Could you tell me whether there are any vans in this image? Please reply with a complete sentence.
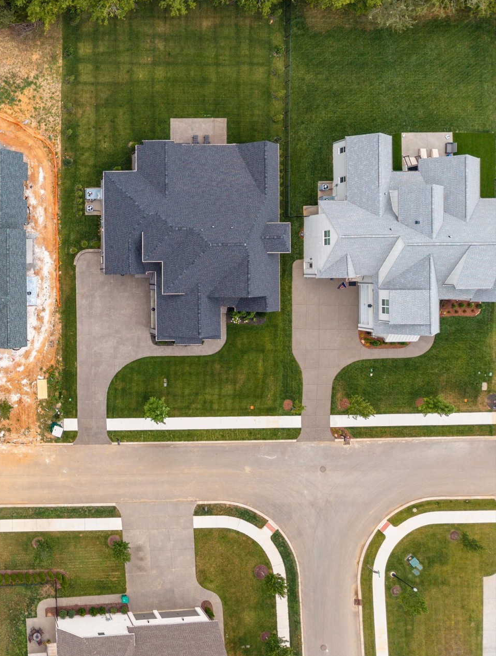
No, this view has no van in it.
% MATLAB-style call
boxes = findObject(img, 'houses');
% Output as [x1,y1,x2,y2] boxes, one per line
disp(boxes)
[56,608,229,656]
[0,149,27,349]
[101,139,291,346]
[304,133,496,341]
